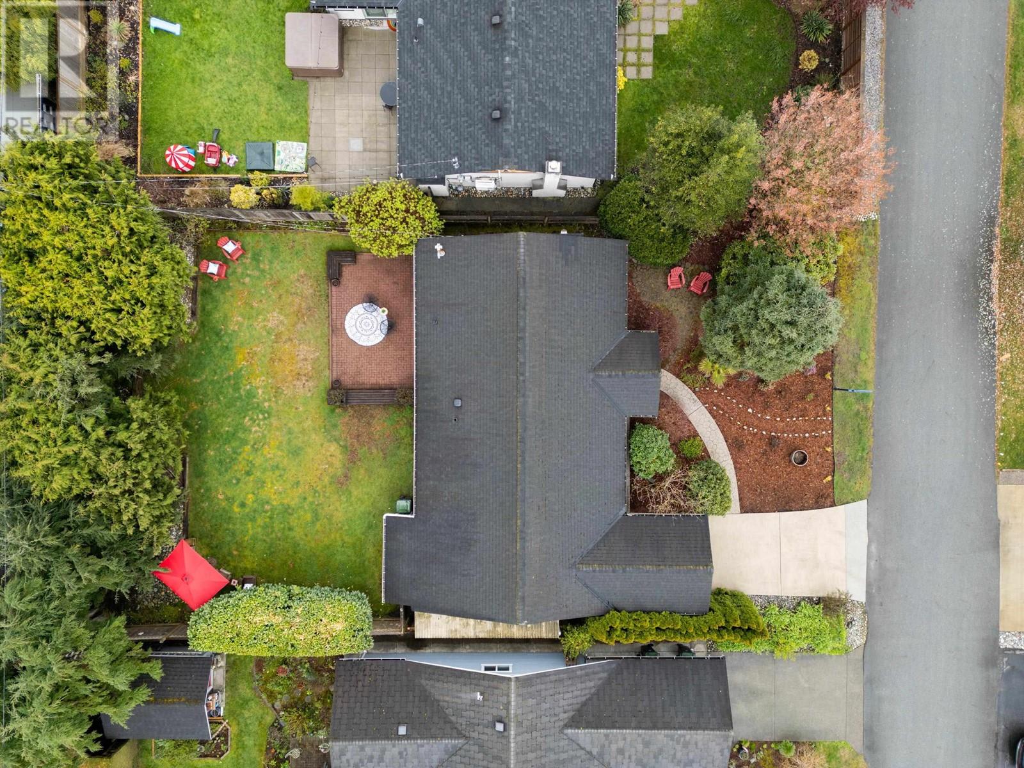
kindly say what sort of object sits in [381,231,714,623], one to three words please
house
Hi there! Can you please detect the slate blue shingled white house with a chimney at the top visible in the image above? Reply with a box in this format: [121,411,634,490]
[310,0,617,196]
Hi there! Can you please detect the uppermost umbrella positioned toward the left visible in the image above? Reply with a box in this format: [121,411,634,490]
[165,143,197,173]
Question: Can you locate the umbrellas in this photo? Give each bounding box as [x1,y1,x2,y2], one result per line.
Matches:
[154,539,230,609]
[165,143,197,173]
